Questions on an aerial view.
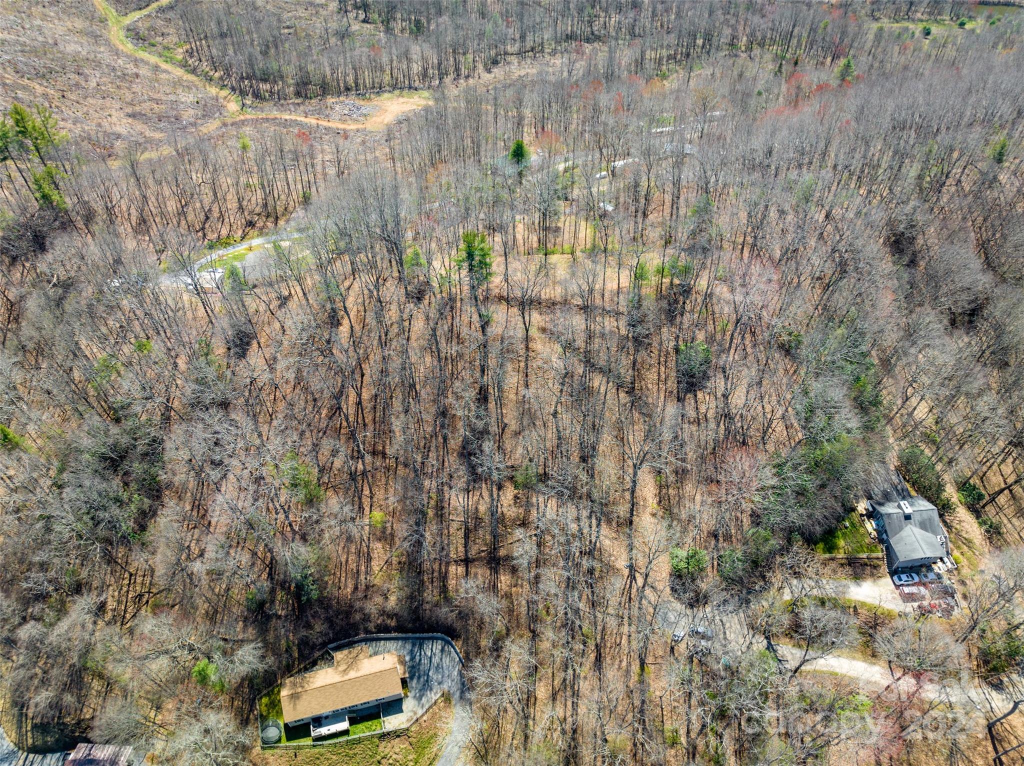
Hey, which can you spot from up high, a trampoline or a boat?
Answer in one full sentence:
The one in the frame is a trampoline.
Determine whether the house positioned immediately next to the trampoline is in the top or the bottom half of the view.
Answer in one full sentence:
It is in the bottom half that the house positioned immediately next to the trampoline appears.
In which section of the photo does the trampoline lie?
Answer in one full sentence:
The trampoline is located in the bottom left region of the scene.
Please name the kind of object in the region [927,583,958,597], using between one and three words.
car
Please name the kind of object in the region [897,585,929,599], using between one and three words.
car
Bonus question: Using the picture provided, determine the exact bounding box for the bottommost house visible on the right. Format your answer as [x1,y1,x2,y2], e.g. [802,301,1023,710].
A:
[855,499,957,579]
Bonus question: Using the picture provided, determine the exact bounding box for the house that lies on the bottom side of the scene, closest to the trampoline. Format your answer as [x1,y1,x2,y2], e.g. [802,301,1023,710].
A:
[281,646,409,739]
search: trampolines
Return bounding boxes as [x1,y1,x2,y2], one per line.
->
[257,721,284,747]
